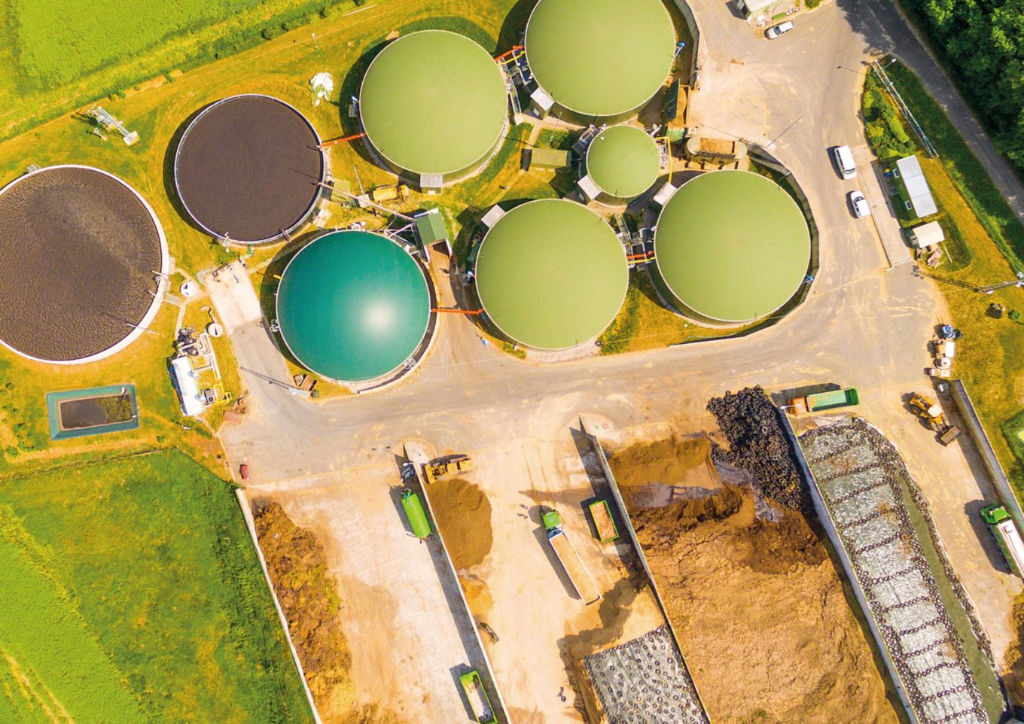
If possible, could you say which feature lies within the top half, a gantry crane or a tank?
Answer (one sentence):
What appears within the top half is a tank.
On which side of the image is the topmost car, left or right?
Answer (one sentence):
It is on the right.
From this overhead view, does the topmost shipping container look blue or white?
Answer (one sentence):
From above, the topmost shipping container appears white.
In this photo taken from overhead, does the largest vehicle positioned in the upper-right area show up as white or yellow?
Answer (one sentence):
From above, the largest vehicle positioned in the upper-right area appears white.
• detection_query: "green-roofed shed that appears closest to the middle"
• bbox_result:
[417,212,448,252]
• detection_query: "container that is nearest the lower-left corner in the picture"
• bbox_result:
[172,357,210,415]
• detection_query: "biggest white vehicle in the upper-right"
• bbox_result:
[835,143,857,180]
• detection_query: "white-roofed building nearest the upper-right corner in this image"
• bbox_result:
[887,155,937,223]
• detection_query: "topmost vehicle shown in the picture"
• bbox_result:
[764,18,797,41]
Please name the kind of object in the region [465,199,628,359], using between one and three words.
storage tank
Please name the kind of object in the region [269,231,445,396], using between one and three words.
storage tank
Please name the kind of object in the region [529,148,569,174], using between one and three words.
shed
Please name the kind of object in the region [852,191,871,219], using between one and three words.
car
